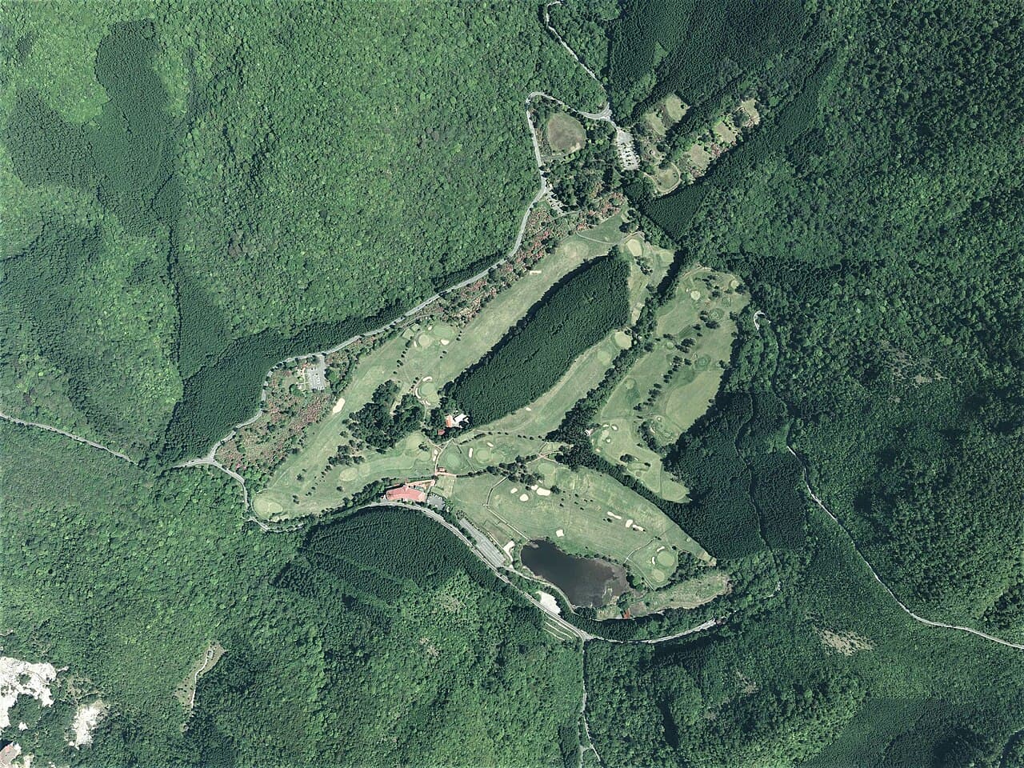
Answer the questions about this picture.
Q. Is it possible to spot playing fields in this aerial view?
Yes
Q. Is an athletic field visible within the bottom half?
No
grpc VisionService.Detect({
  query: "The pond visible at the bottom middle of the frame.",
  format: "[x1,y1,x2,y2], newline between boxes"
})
[523,541,626,606]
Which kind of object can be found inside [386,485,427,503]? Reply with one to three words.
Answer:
building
